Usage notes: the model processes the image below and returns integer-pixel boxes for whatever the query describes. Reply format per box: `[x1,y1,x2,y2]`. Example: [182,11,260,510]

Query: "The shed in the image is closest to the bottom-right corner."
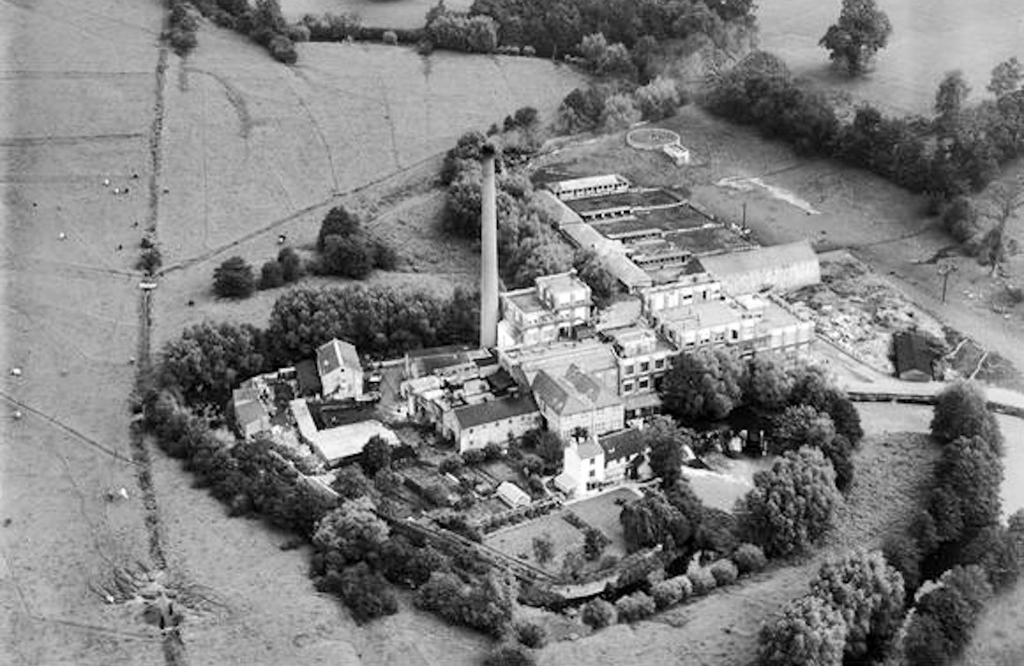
[894,330,936,383]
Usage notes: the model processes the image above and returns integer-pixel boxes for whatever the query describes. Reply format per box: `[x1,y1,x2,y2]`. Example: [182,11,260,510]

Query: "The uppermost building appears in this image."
[666,145,689,165]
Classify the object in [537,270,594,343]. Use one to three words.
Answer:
building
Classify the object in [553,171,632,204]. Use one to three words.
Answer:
shed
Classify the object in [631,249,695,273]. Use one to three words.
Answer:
shed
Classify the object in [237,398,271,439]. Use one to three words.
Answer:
house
